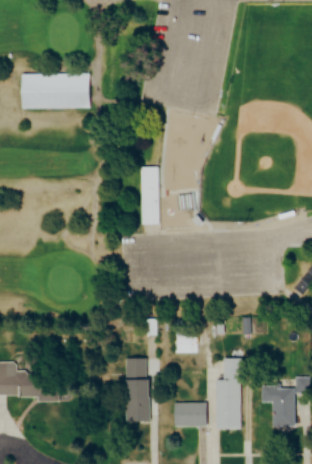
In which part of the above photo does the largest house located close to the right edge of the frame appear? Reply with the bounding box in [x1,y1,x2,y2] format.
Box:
[262,384,297,428]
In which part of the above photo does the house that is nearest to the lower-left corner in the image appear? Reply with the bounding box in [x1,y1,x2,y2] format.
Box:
[0,362,62,402]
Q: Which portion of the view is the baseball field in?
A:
top right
